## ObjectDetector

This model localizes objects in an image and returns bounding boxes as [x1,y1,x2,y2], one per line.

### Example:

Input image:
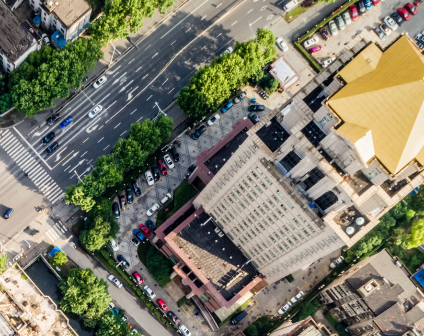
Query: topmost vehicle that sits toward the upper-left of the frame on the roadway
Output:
[93,75,108,88]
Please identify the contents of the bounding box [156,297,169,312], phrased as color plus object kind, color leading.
red vehicle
